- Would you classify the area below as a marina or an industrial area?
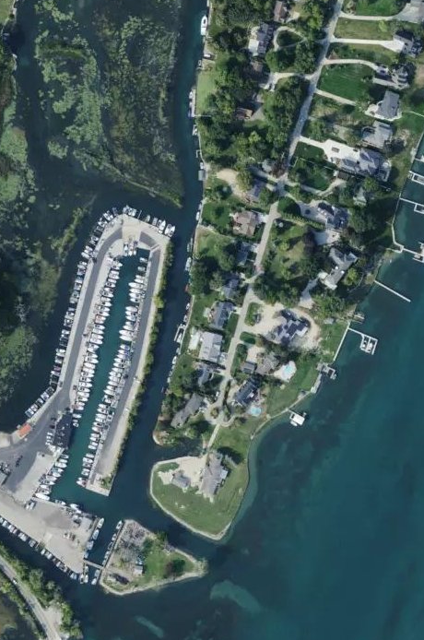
marina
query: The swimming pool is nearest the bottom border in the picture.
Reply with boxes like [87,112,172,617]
[249,402,263,416]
